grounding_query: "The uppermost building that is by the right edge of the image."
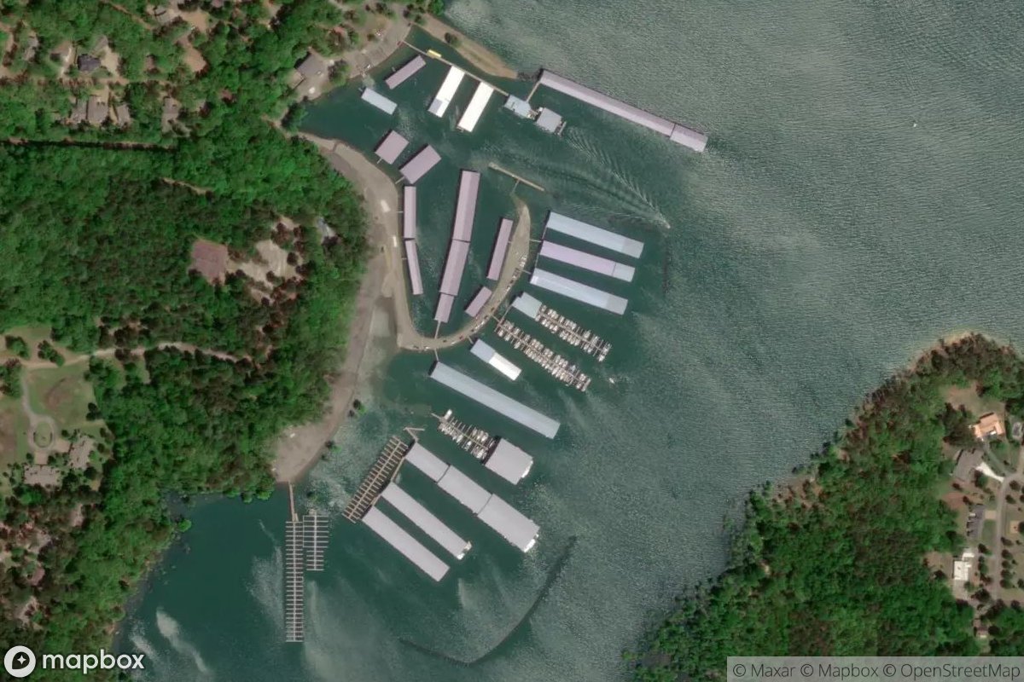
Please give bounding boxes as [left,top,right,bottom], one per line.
[973,413,1006,438]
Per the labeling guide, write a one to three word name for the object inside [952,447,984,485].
house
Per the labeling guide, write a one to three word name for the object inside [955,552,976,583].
building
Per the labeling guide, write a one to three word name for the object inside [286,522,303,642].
pier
